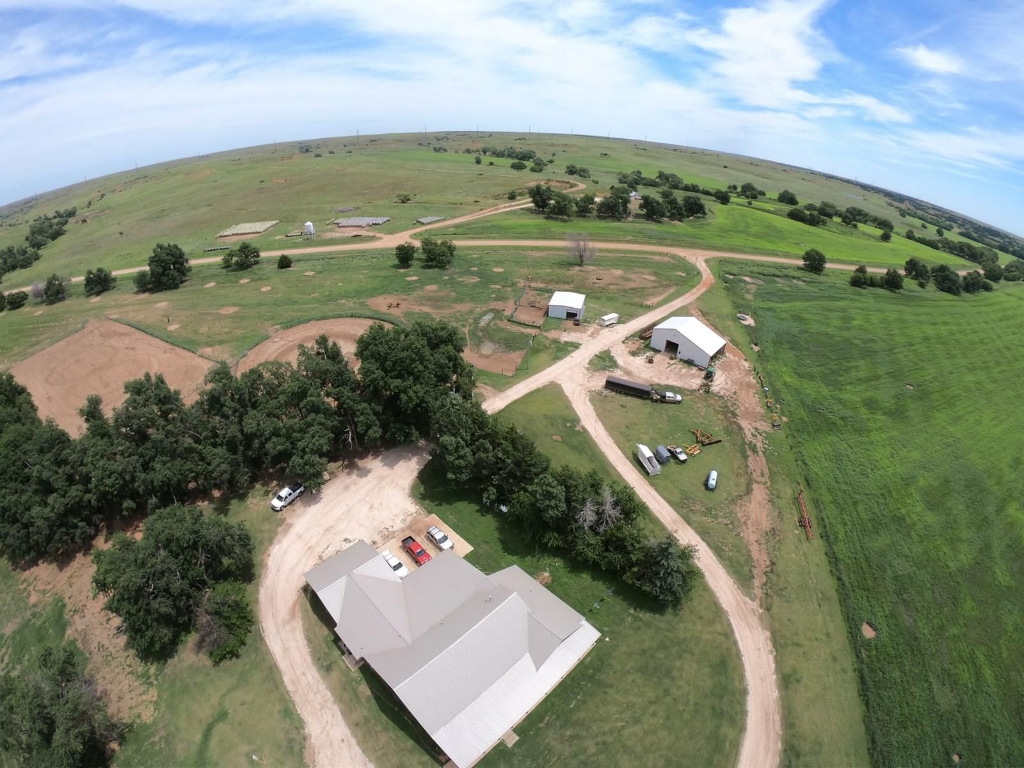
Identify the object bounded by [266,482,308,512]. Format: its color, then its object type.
white truck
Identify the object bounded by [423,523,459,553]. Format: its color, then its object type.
white car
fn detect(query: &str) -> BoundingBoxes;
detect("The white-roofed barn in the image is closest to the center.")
[548,291,583,319]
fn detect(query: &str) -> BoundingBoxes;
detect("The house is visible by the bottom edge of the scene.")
[302,541,601,768]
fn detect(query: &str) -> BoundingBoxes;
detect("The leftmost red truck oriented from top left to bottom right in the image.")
[396,531,435,569]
